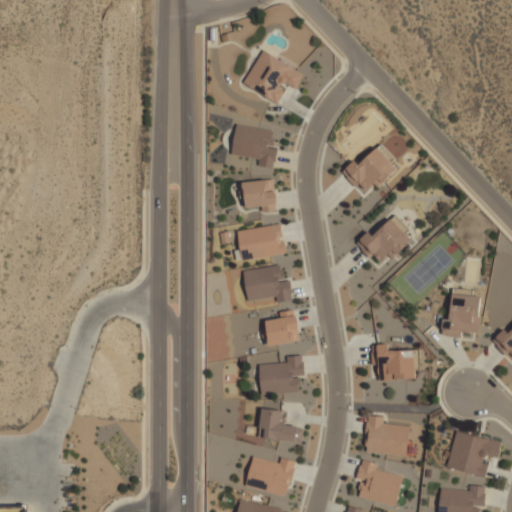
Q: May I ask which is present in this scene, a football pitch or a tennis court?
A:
tennis court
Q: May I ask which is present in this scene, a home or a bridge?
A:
home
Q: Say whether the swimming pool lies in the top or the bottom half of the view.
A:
top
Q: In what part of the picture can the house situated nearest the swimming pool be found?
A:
top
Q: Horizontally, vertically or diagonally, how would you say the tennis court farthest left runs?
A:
diagonally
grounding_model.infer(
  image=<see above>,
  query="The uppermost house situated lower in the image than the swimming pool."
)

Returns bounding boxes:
[243,50,302,103]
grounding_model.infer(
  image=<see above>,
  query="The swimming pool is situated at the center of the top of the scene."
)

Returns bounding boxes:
[264,30,290,50]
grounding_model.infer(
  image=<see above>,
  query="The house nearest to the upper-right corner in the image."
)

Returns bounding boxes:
[344,144,400,194]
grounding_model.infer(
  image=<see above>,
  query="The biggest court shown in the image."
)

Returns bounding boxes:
[391,233,466,304]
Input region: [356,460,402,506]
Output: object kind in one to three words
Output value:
house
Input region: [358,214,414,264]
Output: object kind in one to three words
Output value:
house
